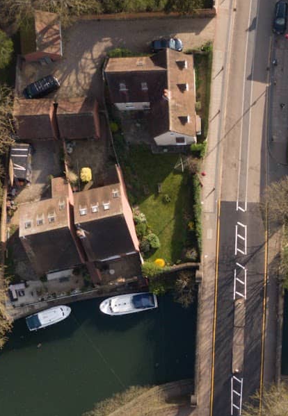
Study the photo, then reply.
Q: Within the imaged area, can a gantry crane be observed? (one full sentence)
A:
No, no gantry crane can be seen from above.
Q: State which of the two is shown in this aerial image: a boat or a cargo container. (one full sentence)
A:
Of the two, only a boat appears.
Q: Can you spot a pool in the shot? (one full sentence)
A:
No, the picture doesn't show any pool.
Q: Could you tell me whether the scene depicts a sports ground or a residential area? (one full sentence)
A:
The area seen from above is a residential area.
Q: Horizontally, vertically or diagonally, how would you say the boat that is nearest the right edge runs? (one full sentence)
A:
Seen from above, the boat that is nearest the right edge lies horizontally.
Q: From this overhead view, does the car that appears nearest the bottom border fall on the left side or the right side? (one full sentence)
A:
The car that appears nearest the bottom border is on the left side of the image.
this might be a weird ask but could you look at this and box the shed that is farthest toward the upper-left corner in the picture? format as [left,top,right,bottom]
[20,7,65,59]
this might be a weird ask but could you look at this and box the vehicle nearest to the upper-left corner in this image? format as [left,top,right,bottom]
[23,75,60,100]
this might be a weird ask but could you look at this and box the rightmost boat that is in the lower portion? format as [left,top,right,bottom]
[99,292,161,315]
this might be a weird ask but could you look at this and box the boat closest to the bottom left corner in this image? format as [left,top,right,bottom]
[24,307,72,332]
